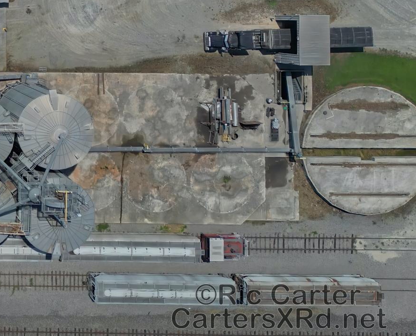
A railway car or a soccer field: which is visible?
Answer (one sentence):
It is a railway car that can be seen here.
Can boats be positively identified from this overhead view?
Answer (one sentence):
No, no boat is visible in the scene.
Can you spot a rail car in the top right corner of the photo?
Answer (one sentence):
No, there's no rail car to be seen in the top right corner of the photo.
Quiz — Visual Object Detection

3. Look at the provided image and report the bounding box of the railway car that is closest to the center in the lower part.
[193,234,240,263]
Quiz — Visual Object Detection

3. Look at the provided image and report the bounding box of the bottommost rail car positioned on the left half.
[78,275,236,306]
